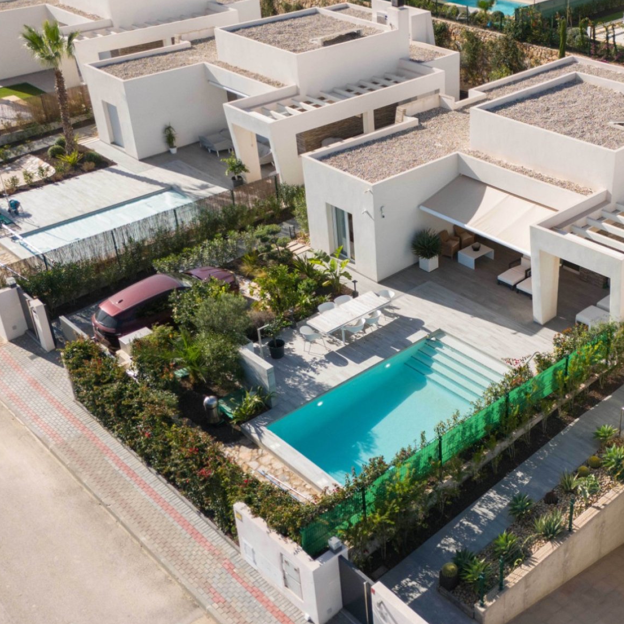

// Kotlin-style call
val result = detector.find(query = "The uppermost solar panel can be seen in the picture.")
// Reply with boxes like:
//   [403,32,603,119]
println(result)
[310,29,363,46]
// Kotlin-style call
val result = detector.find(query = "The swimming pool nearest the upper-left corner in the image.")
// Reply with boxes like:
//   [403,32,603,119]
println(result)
[12,189,208,263]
